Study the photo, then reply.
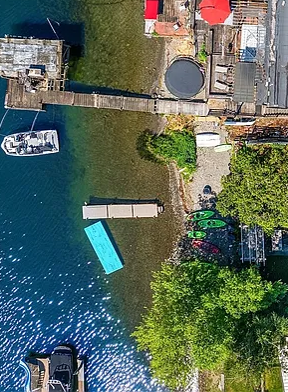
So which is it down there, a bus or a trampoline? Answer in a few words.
trampoline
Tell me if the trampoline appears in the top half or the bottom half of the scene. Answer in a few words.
top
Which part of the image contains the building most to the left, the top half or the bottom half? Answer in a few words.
top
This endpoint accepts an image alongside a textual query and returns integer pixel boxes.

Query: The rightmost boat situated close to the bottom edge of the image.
[50,341,76,392]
